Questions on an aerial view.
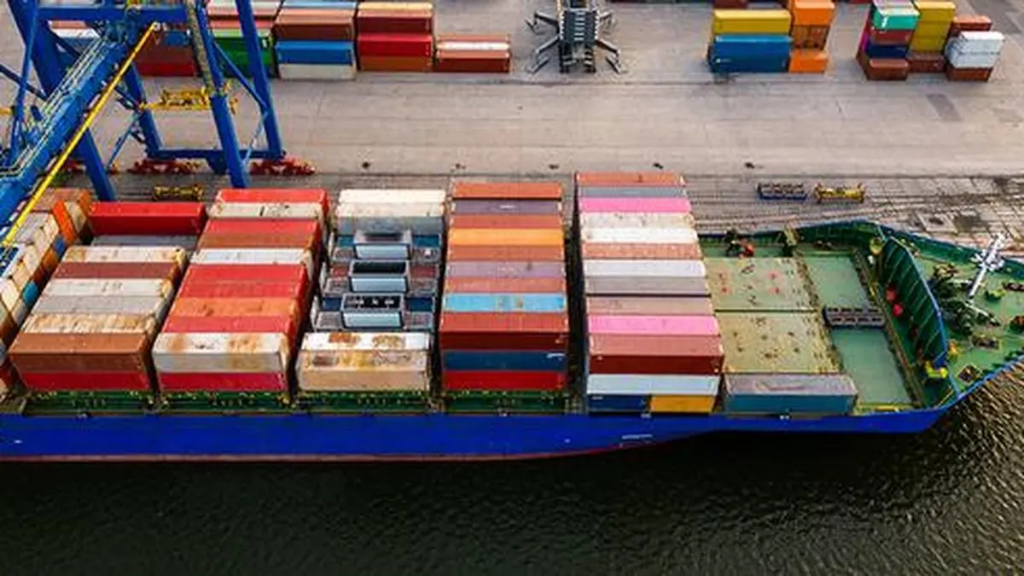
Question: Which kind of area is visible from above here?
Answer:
port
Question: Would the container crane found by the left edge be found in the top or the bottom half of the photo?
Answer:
top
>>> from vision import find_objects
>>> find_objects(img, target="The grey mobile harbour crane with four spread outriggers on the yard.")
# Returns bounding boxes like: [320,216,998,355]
[525,0,631,71]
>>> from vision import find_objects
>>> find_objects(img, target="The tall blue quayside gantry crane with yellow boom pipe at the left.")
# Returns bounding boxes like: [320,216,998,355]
[0,0,317,341]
